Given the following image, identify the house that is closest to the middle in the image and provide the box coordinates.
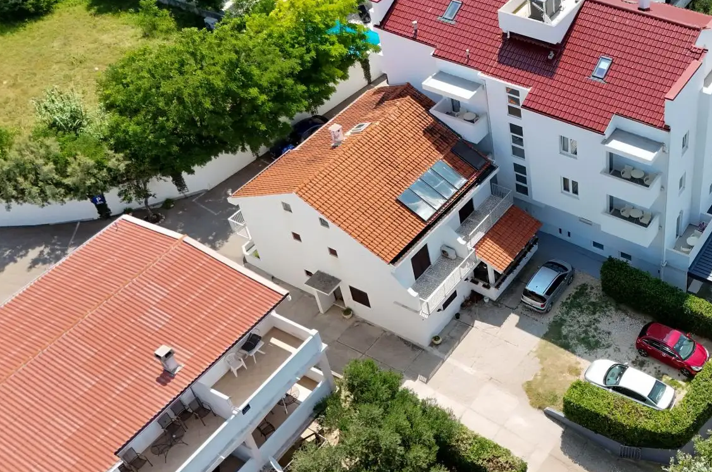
[215,85,548,339]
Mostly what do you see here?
buildings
